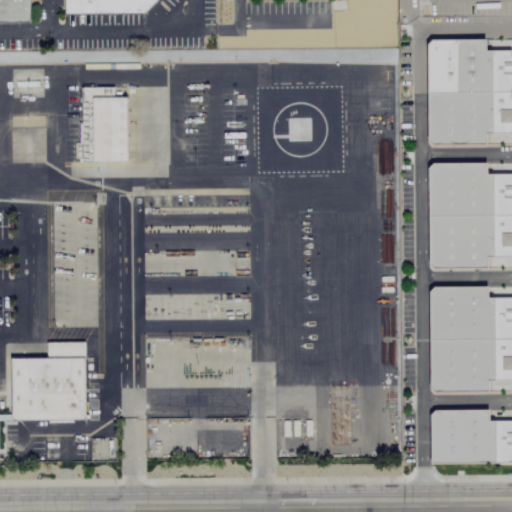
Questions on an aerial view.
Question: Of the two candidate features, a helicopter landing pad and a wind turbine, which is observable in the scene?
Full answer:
The image shows a helicopter landing pad.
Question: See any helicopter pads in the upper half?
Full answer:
Yes, you'll find a helicopter pad in the upper half.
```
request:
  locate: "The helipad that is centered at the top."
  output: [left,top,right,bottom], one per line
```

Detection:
[257,82,348,177]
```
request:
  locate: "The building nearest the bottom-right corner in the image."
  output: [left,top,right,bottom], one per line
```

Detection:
[430,408,512,464]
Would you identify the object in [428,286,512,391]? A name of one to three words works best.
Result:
building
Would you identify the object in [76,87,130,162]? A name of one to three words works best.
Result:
building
